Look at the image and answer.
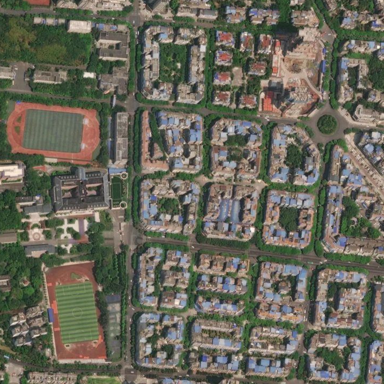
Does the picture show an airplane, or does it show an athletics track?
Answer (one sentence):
Of the two, only an athletics track appears.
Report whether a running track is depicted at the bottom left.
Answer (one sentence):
Yes, at the bottom left there is a running track.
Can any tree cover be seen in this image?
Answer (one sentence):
Yes, there's tree cover in this view.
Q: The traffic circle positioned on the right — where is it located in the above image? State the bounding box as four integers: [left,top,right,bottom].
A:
[308,105,348,143]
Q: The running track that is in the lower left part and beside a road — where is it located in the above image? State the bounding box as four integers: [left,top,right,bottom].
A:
[46,262,106,359]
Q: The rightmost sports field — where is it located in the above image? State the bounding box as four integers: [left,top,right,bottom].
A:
[56,282,99,343]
